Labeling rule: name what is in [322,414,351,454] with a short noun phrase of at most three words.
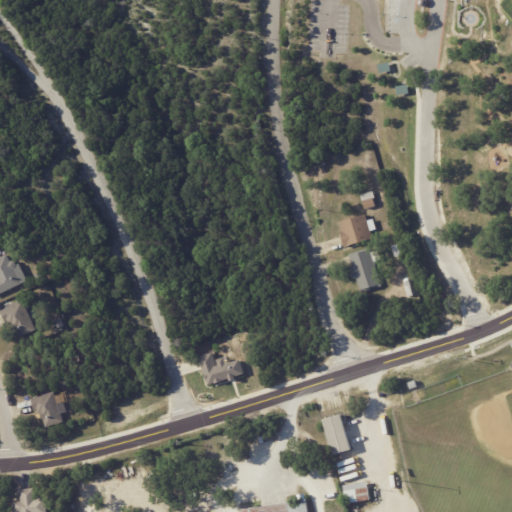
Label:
building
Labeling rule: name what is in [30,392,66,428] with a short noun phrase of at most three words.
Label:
house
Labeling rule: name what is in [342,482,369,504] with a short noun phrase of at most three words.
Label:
building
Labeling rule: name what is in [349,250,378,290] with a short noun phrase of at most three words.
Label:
house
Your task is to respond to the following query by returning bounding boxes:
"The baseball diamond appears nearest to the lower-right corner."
[395,370,512,512]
